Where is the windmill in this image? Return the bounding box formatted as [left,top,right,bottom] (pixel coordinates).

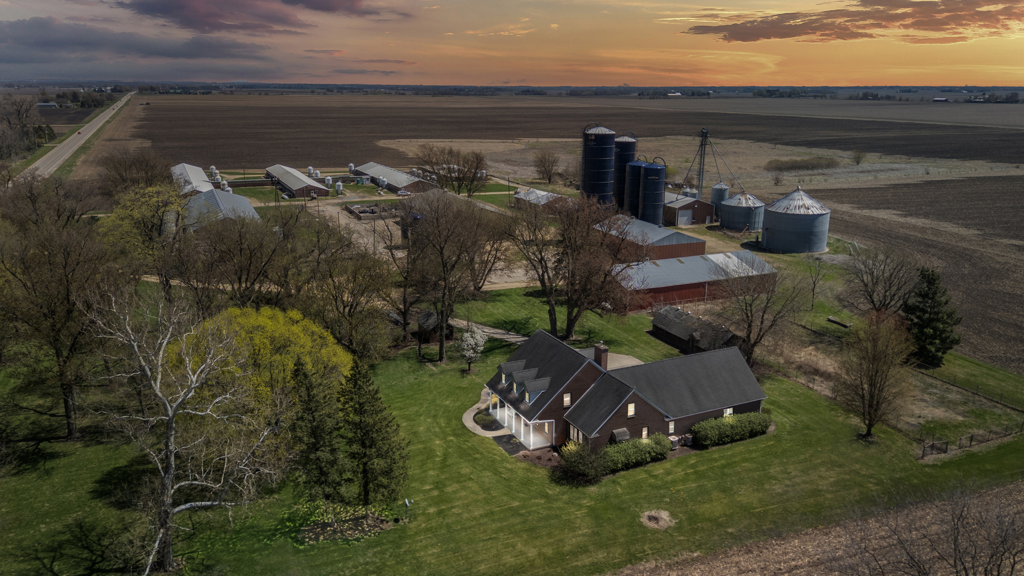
[268,173,285,215]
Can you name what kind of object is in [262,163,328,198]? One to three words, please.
barn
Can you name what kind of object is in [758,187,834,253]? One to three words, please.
silo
